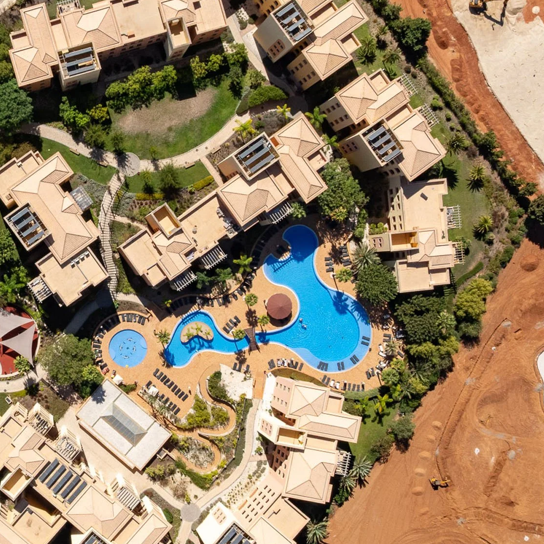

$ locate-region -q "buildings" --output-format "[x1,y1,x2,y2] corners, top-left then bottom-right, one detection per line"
[372,178,467,292]
[198,486,310,544]
[0,151,108,306]
[0,400,172,544]
[324,69,447,184]
[260,381,362,504]
[76,378,172,470]
[115,114,330,291]
[10,0,227,93]
[257,0,368,87]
